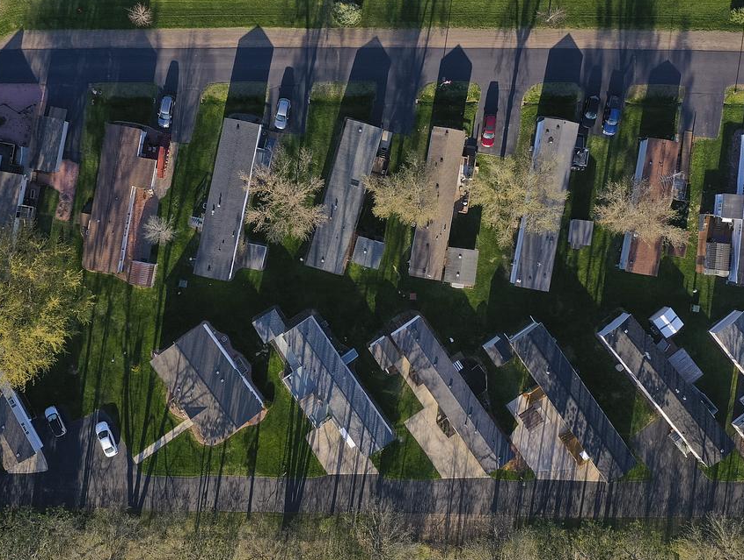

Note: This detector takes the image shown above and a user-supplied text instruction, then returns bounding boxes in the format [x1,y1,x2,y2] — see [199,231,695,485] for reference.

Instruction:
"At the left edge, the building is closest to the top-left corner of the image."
[35,106,72,172]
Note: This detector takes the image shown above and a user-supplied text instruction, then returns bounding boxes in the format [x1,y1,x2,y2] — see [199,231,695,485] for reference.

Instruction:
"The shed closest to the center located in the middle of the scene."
[352,236,385,268]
